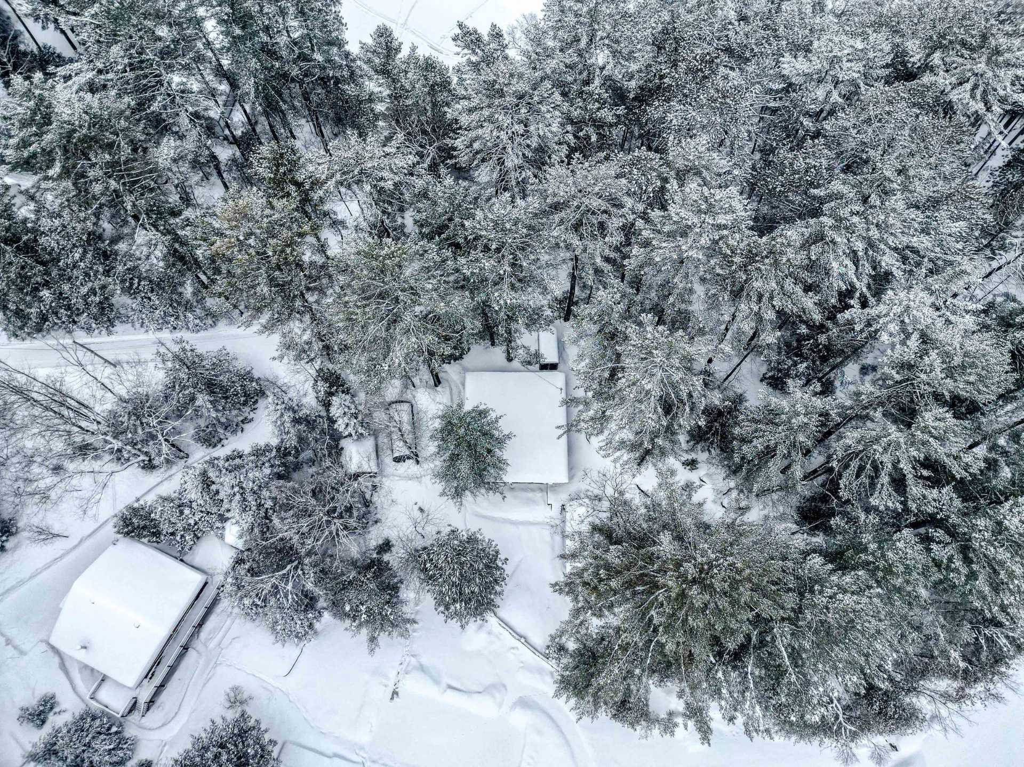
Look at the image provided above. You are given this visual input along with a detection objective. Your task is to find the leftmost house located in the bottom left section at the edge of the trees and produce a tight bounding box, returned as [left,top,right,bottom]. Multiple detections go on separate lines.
[48,535,205,692]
